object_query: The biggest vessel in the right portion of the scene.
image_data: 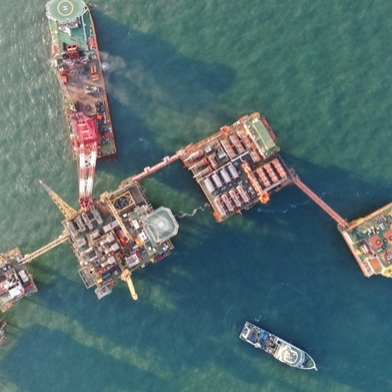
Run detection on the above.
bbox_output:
[239,321,319,371]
